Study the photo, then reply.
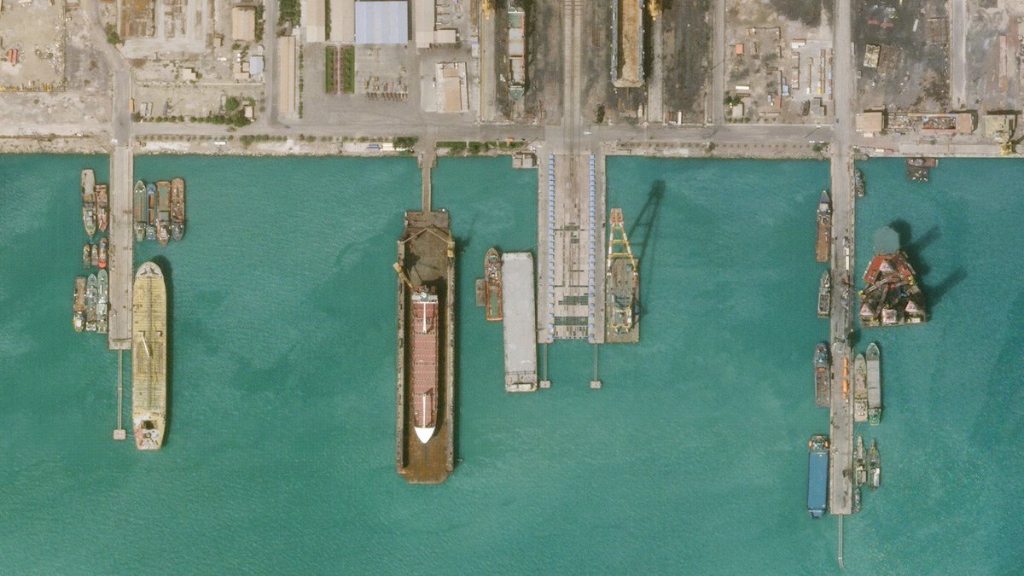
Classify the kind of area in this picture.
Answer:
port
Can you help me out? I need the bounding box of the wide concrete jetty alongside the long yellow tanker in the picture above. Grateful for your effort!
[108,147,134,350]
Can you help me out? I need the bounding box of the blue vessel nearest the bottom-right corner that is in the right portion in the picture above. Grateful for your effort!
[808,435,829,518]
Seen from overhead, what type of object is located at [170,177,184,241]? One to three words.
ship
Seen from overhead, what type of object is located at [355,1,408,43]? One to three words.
building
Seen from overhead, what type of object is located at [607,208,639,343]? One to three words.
crane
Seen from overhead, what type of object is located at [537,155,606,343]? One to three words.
pier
